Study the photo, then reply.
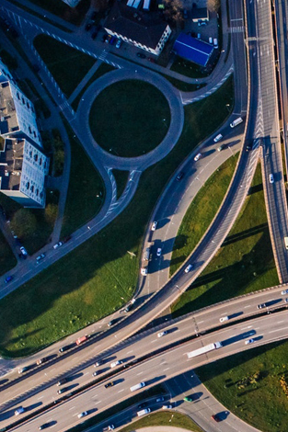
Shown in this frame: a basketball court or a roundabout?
roundabout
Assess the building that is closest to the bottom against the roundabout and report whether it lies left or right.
left of it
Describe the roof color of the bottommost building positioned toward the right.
blue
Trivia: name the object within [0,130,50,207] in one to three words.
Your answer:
building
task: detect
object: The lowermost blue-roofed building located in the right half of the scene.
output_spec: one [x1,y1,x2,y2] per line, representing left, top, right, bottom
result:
[174,33,215,67]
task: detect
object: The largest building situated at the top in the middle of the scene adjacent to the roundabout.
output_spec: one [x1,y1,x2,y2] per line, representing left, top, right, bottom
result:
[105,3,175,58]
